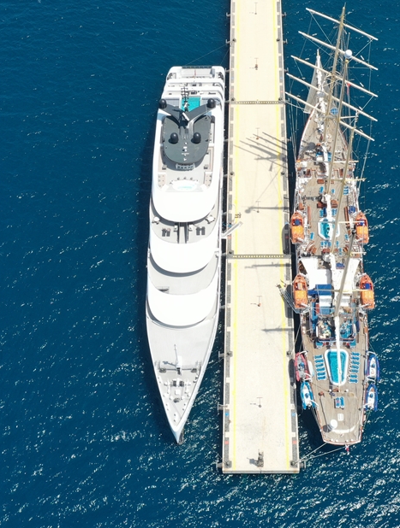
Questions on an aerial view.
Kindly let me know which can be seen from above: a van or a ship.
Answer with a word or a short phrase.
ship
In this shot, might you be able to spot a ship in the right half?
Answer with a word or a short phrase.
Yes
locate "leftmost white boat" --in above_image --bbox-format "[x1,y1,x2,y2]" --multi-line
[145,64,225,442]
